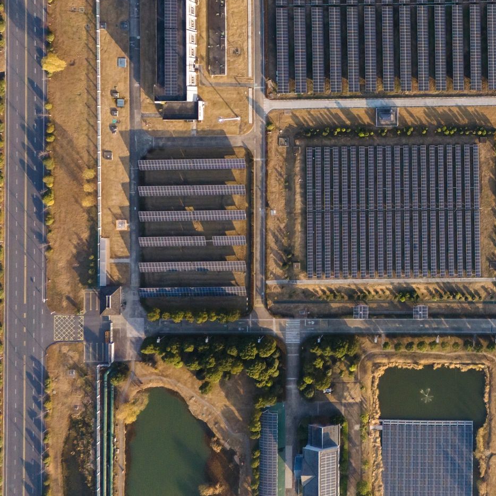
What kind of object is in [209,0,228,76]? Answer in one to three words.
building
